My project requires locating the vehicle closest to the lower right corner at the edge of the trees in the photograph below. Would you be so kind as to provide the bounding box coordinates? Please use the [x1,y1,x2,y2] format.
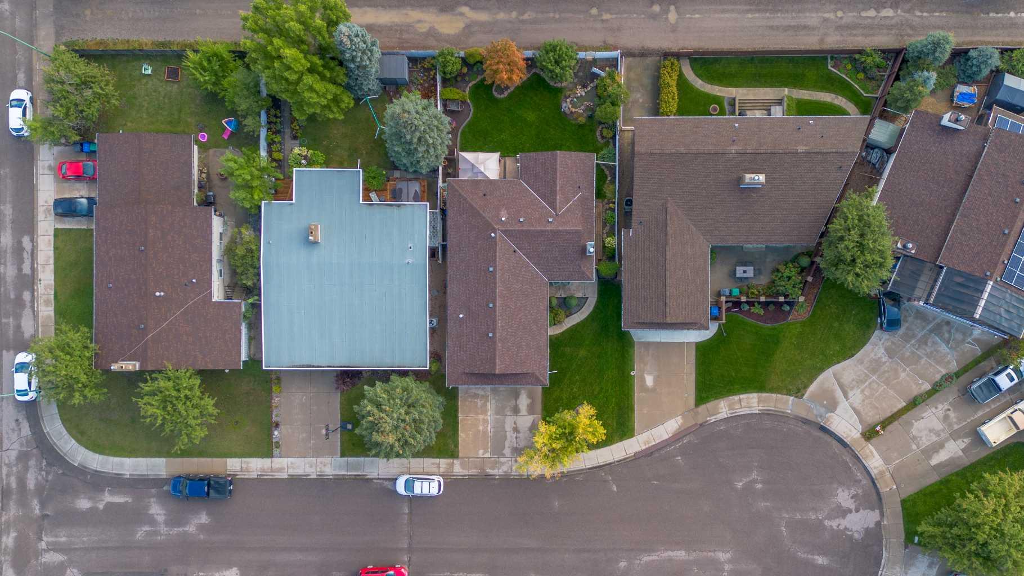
[981,402,1024,447]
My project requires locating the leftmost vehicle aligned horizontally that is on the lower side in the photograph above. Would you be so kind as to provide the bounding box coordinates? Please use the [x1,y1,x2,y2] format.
[168,478,230,504]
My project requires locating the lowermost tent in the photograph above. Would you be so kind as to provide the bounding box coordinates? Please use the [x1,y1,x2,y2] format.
[458,152,500,179]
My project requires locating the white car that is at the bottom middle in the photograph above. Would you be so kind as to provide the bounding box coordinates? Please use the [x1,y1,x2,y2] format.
[395,476,443,501]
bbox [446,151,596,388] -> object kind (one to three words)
house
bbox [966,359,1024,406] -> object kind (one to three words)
truck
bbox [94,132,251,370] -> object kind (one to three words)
house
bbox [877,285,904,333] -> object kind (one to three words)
car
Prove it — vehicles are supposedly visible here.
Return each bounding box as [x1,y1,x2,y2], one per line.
[168,478,230,504]
[358,565,407,576]
[966,359,1024,406]
[981,402,1024,447]
[877,285,904,333]
[46,193,96,217]
[395,476,443,501]
[6,352,35,402]
[50,156,96,179]
[2,89,31,136]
